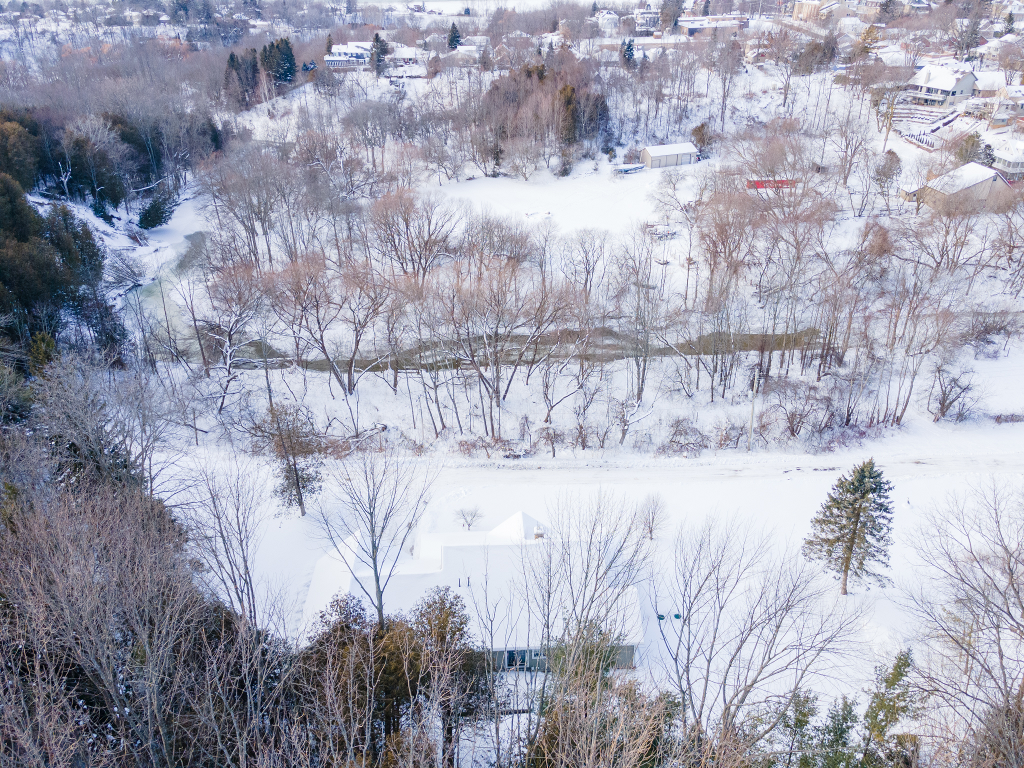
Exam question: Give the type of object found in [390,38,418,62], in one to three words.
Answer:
house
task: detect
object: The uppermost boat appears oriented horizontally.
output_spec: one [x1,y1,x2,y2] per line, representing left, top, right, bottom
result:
[614,160,648,173]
